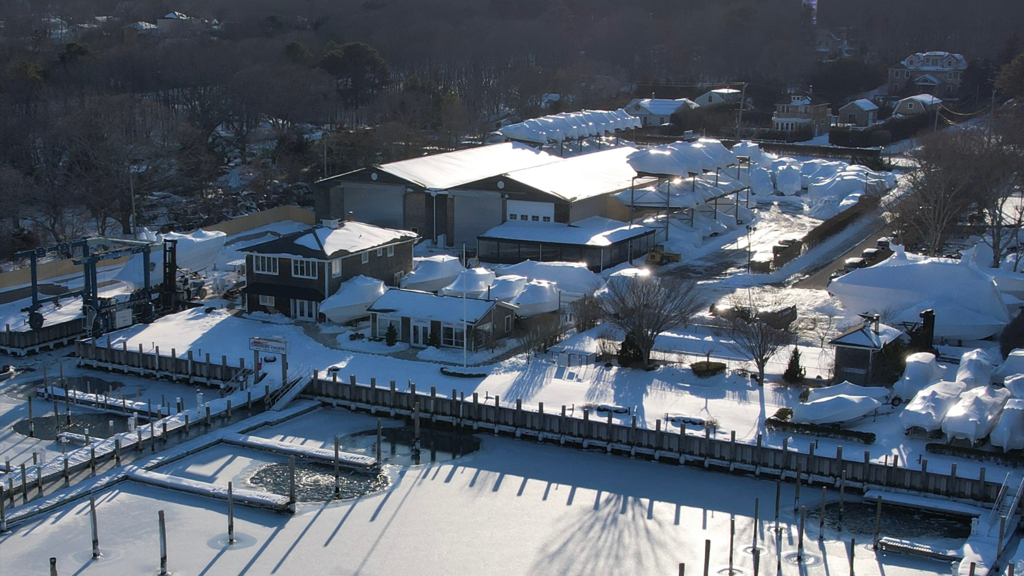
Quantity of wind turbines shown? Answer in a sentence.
The picture shows no wind turbines.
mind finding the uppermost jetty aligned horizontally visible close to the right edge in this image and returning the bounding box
[864,493,982,520]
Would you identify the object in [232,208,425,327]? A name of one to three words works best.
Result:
building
